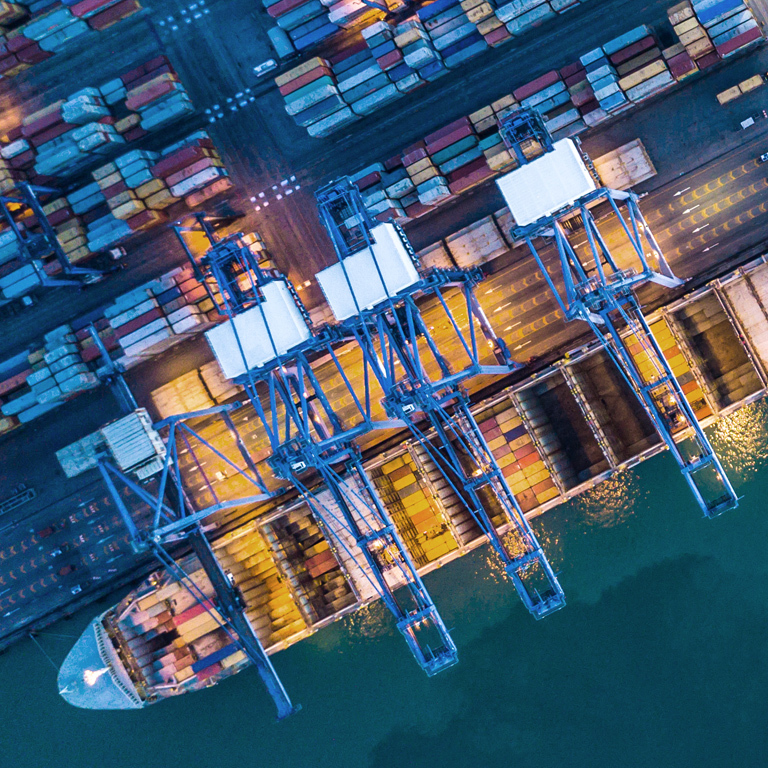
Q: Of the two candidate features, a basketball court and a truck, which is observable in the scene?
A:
truck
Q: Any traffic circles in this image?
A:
No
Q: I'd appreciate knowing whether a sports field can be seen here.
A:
No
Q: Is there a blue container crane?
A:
Yes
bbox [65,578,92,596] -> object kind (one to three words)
vehicle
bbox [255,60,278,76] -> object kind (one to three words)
vehicle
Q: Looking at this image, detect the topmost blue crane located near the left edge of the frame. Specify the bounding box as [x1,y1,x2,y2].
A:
[0,184,111,290]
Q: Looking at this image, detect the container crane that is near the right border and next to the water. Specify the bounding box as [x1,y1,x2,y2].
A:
[489,99,746,530]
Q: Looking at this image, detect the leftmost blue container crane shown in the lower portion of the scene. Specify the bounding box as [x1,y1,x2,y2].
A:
[82,323,308,722]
